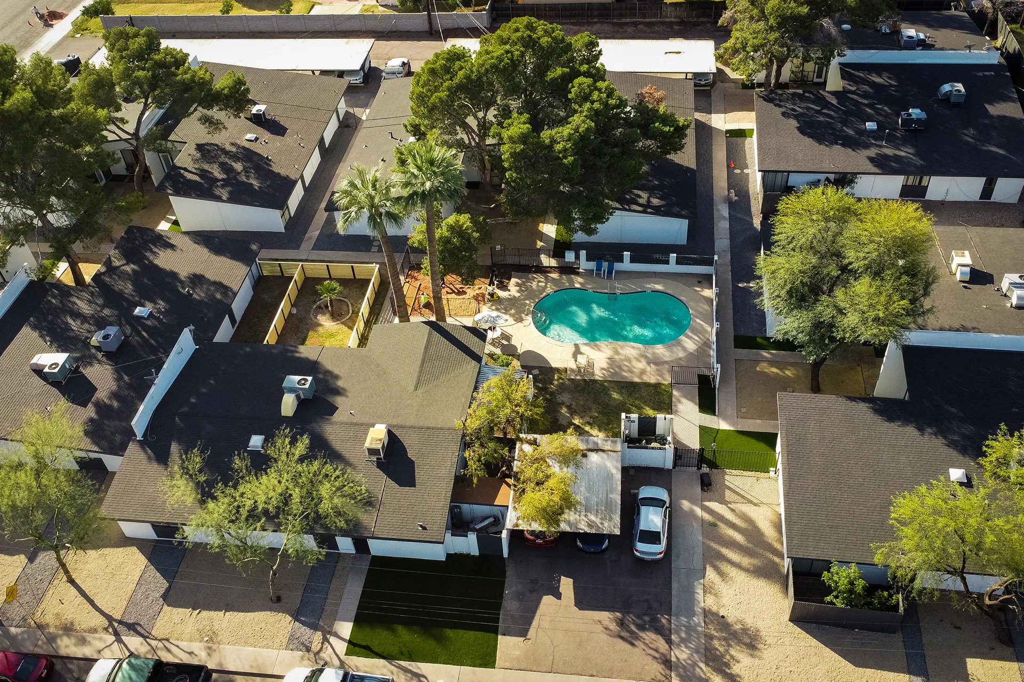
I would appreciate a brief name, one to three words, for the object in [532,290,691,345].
swimming pool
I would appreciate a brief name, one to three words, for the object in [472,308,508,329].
umbrella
